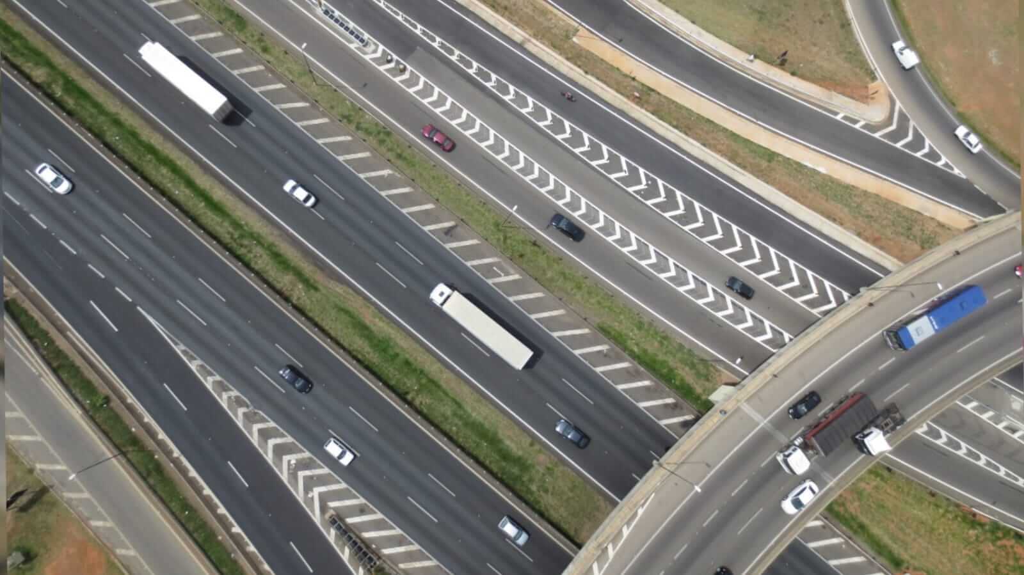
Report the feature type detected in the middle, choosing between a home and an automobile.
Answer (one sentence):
The feature located in the middle is an automobile.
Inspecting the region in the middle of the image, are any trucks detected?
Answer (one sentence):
Yes, a truck appears in the middle of the image.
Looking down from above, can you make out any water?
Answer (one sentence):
No, the picture contains no water.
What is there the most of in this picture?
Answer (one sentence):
The scene is dominated by paved ground.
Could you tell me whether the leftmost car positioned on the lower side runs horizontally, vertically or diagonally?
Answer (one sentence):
In this picture, the leftmost car positioned on the lower side lies diagonally.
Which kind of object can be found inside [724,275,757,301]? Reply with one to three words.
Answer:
car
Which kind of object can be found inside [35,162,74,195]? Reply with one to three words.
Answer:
car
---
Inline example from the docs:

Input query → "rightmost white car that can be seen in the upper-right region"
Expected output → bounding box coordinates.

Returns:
[953,124,983,153]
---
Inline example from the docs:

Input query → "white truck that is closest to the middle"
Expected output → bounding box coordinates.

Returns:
[427,282,533,371]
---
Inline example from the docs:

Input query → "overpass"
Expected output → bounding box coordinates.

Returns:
[564,213,1024,575]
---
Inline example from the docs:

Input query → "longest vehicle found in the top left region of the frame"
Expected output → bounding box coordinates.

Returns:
[140,42,239,125]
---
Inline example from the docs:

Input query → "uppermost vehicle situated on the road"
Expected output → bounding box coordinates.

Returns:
[890,38,921,71]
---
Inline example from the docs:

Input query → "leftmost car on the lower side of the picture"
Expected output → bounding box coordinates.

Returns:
[279,364,313,394]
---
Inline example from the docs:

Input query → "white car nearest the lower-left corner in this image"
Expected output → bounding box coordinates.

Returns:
[323,438,355,467]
